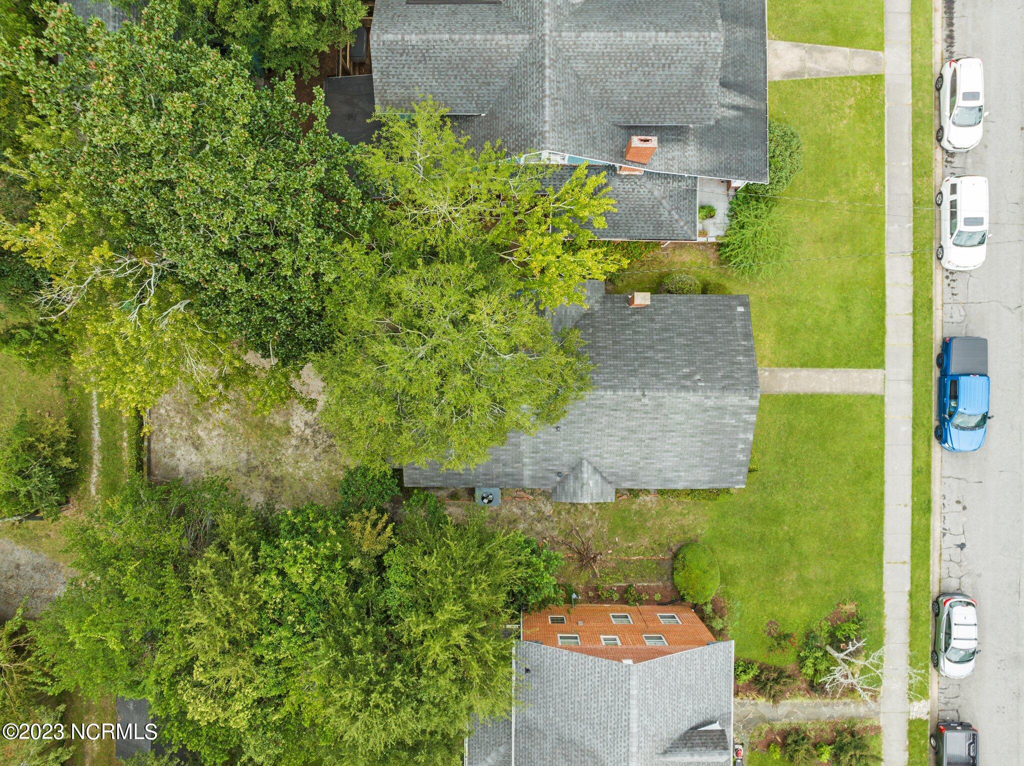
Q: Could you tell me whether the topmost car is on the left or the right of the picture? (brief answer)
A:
right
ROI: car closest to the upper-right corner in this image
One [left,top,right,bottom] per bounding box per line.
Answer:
[936,56,991,157]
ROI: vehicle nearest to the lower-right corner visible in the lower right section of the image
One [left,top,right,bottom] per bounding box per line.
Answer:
[932,715,983,766]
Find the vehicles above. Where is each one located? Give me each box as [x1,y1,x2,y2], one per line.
[932,715,983,766]
[932,591,987,680]
[936,56,991,157]
[937,175,994,274]
[936,338,995,454]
